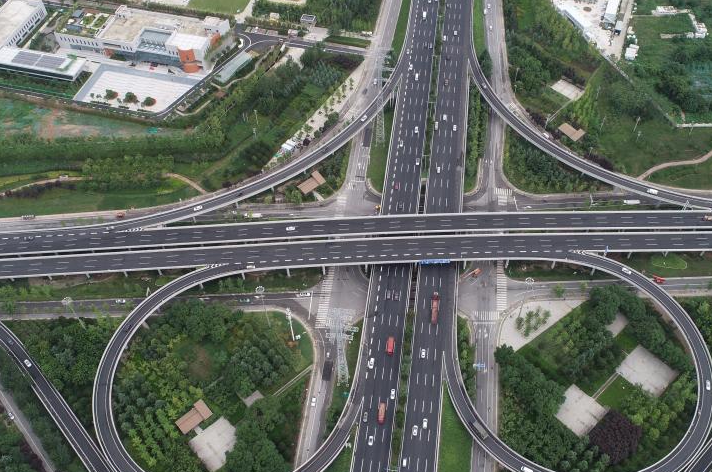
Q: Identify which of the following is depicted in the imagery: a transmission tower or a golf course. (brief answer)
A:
transmission tower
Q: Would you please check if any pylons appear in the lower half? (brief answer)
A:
Yes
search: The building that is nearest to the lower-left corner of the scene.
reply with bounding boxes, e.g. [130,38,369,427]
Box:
[176,400,212,437]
